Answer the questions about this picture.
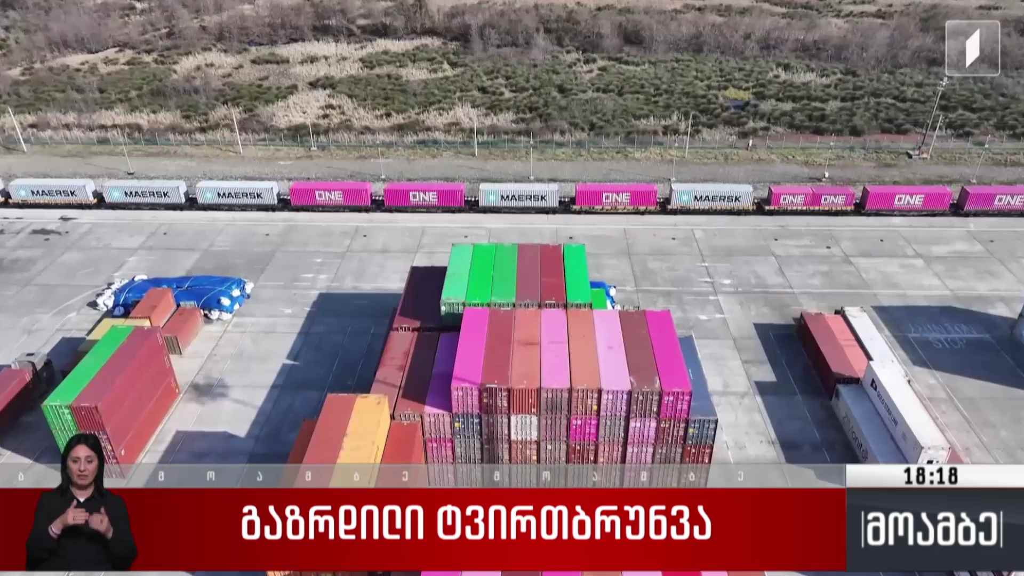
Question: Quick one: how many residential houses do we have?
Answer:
0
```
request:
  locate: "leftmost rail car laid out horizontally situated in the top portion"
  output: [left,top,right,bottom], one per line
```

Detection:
[9,195,106,209]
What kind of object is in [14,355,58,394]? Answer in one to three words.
truck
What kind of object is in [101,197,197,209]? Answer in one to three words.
rail car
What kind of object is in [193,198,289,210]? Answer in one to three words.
rail car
